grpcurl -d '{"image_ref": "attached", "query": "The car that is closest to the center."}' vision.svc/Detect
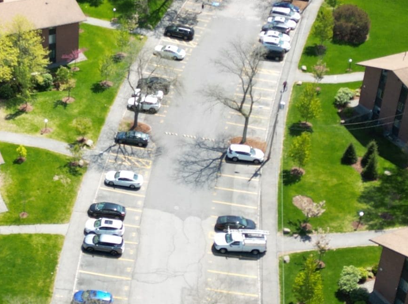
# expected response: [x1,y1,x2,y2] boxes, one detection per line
[226,143,265,165]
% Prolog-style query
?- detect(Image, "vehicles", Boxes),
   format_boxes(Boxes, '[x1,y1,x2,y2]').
[271,5,301,20]
[260,21,293,35]
[113,131,152,148]
[127,95,163,115]
[260,36,293,54]
[81,234,127,258]
[212,213,258,235]
[152,46,186,61]
[226,143,265,165]
[258,49,292,64]
[70,290,115,304]
[82,216,127,239]
[136,77,171,92]
[266,16,298,28]
[259,30,292,43]
[212,226,270,257]
[164,25,196,40]
[103,171,145,191]
[86,201,129,220]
